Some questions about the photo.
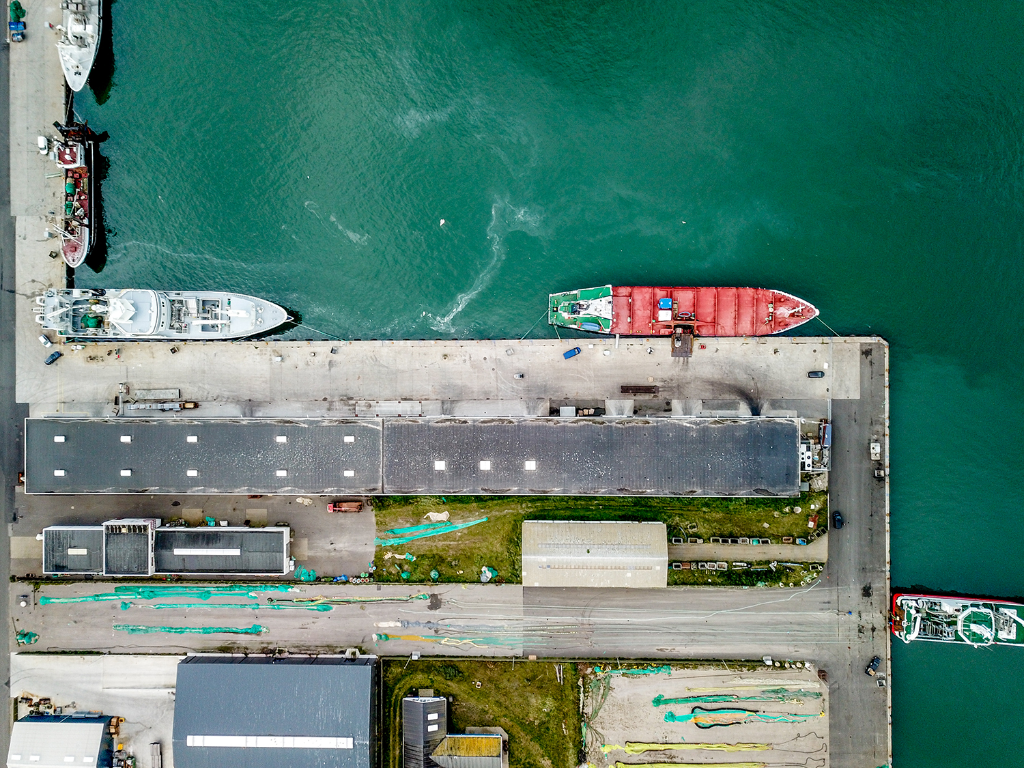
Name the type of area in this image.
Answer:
port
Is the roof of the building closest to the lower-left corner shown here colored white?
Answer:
Yes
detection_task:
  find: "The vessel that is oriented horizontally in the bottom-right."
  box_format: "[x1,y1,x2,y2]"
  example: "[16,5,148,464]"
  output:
[889,592,1024,651]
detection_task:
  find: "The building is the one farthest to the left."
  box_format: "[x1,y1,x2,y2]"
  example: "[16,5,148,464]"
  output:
[7,713,113,768]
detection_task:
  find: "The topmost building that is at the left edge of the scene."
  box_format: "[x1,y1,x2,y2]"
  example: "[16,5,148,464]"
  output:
[23,412,383,494]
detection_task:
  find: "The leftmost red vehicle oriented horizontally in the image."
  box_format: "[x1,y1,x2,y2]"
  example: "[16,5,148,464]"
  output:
[328,500,363,513]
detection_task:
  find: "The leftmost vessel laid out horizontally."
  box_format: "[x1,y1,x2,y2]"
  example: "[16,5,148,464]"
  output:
[32,289,294,340]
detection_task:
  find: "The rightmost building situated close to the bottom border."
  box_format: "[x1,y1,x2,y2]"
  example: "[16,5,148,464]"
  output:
[403,693,502,768]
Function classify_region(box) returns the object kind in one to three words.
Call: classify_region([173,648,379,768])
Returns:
building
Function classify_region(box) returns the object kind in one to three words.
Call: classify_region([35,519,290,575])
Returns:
building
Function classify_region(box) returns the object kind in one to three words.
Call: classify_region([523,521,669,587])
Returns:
shed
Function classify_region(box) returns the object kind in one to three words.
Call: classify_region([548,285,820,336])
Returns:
ship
